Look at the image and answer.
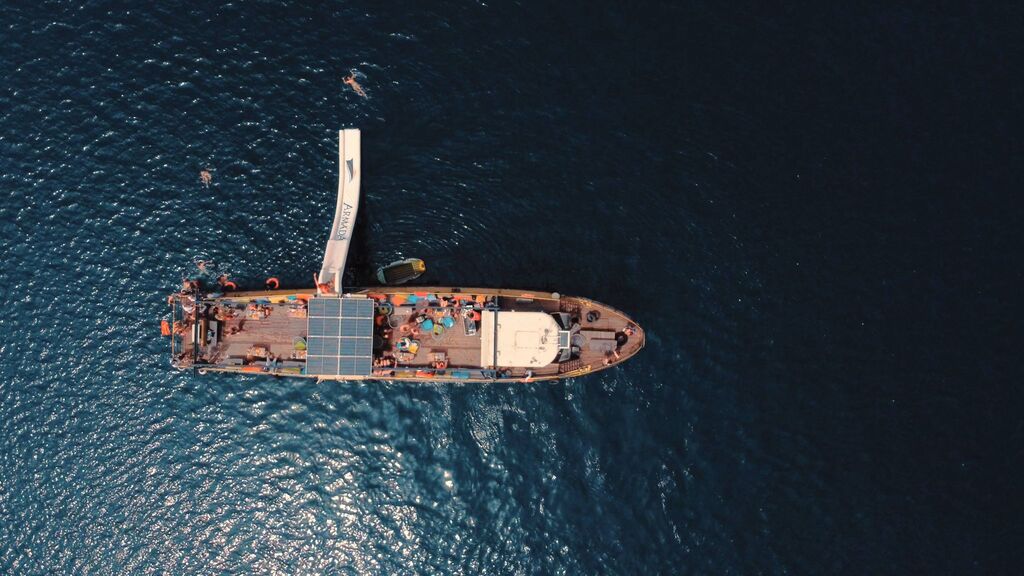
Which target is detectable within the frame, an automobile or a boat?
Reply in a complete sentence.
The one in the frame is a boat.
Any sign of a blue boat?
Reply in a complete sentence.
No, no blue boat can be seen from above.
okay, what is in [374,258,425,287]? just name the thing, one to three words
boat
